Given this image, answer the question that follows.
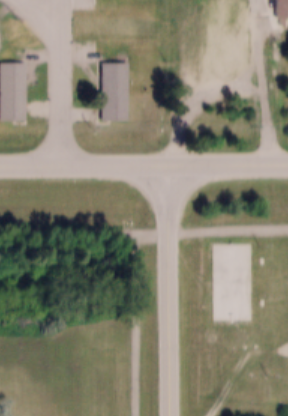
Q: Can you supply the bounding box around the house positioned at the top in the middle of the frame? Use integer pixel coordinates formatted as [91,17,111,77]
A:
[100,62,129,121]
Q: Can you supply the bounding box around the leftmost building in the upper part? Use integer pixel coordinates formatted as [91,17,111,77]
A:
[0,62,26,122]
